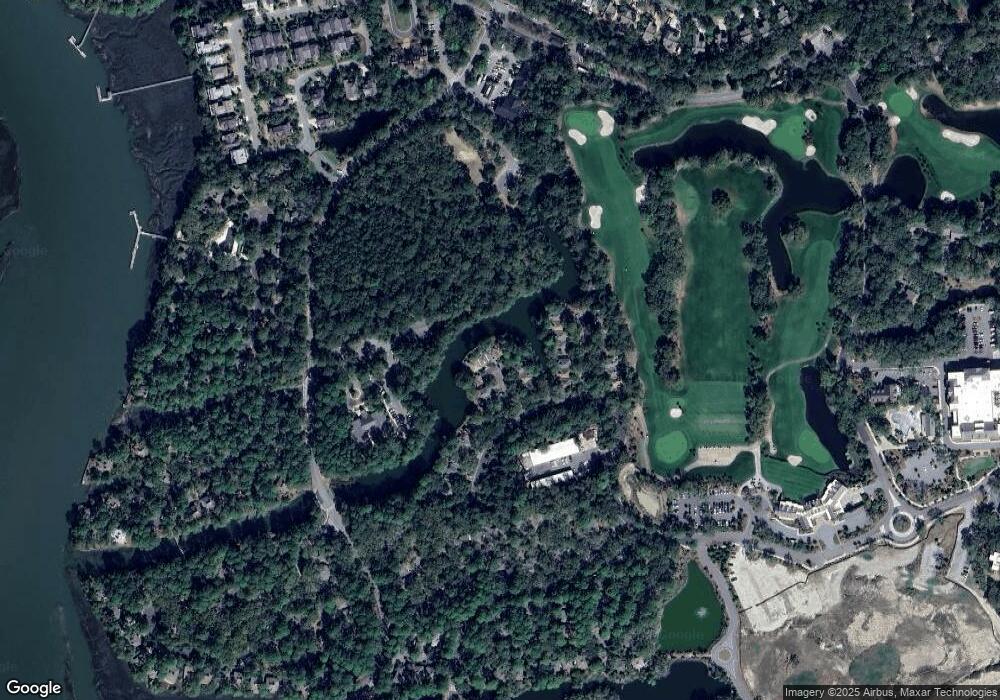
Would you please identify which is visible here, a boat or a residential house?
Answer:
residential house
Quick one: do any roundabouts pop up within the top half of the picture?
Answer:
No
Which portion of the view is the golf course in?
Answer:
right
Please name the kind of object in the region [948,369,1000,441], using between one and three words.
building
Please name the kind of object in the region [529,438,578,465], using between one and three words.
building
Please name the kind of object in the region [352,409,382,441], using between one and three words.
house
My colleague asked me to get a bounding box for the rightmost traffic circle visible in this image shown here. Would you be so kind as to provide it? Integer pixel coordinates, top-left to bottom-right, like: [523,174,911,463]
[883,505,921,543]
